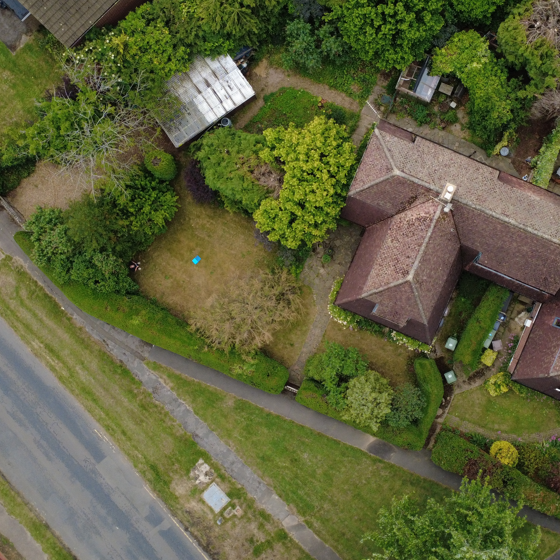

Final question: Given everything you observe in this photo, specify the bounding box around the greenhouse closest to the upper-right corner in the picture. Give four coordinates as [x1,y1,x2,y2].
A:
[393,58,441,107]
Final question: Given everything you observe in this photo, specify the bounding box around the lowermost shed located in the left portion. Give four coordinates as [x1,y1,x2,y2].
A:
[150,54,257,152]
